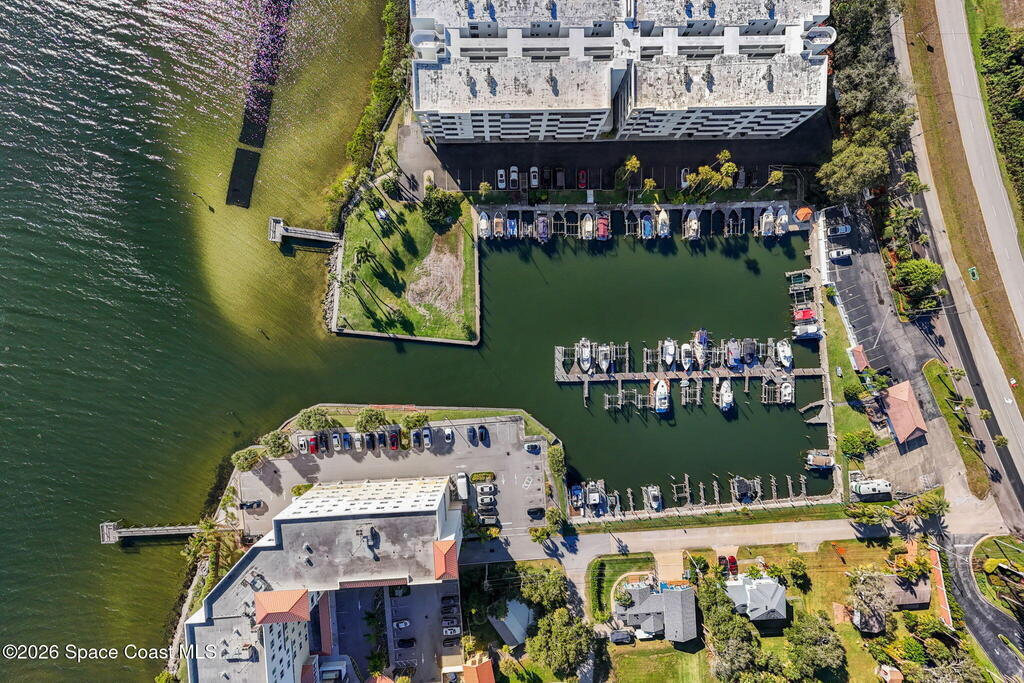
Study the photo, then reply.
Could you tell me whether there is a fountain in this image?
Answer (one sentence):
No, there appears to be no fountain in this shot.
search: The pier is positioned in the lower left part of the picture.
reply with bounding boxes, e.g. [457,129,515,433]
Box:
[97,519,210,546]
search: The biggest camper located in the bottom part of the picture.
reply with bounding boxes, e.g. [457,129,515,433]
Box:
[847,480,894,496]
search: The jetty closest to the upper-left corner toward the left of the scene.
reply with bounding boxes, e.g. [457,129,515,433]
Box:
[266,216,344,245]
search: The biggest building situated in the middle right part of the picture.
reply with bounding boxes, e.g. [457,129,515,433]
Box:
[880,380,927,443]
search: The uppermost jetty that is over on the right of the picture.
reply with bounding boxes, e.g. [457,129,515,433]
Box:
[470,204,793,237]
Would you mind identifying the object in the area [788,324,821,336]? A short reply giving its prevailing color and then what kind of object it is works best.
white boat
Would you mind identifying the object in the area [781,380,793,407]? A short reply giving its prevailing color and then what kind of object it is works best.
white boat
